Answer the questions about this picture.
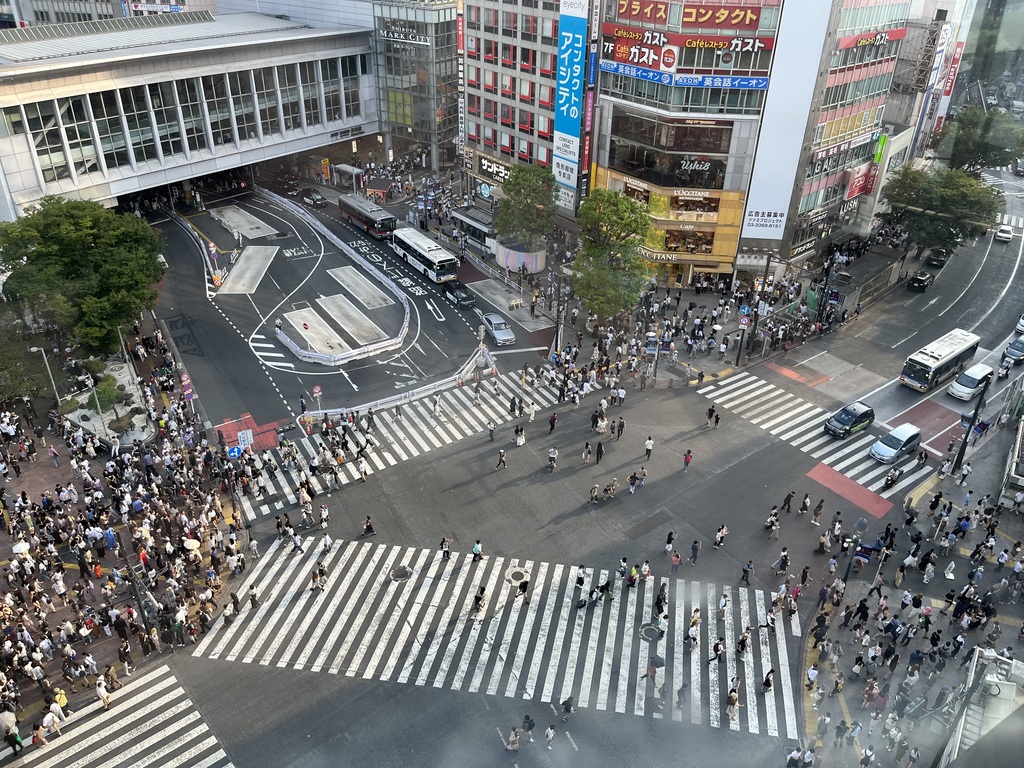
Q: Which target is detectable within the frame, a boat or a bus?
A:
bus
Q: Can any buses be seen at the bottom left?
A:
No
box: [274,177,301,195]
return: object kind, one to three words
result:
car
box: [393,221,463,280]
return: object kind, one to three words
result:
bus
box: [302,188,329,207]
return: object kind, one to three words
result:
car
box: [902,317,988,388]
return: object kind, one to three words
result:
bus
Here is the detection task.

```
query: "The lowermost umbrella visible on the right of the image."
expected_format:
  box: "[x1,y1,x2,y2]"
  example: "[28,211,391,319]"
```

[651,650,676,672]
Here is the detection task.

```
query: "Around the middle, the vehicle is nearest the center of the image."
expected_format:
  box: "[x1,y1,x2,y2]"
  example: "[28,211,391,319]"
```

[477,311,518,344]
